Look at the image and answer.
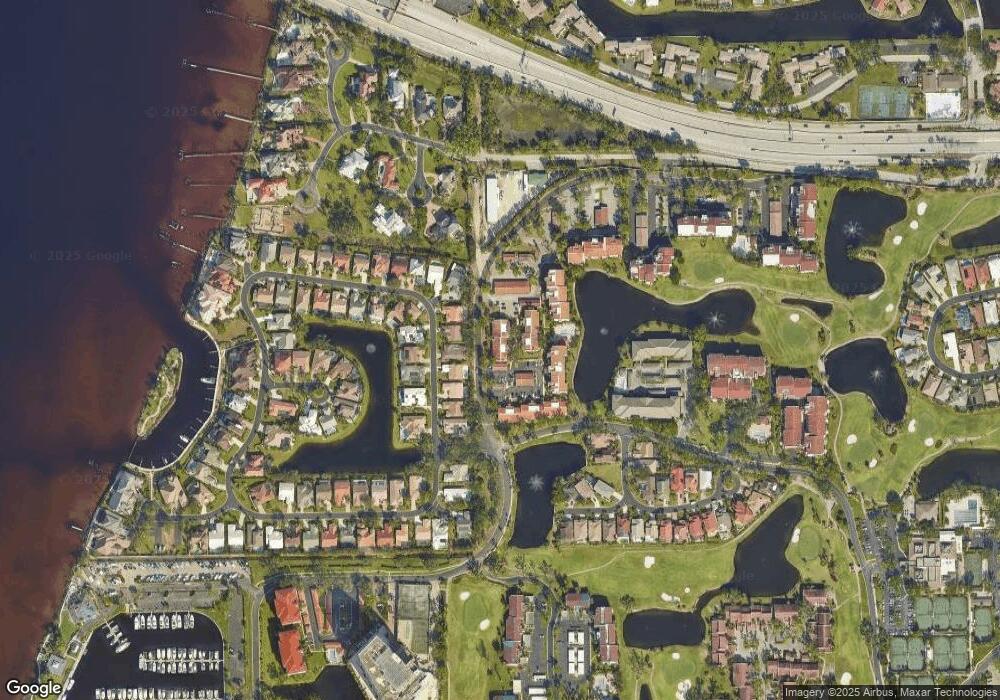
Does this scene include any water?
Yes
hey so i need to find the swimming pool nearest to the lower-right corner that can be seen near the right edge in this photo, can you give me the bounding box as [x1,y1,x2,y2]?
[944,493,983,528]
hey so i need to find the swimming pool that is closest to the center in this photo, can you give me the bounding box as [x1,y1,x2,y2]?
[555,323,575,338]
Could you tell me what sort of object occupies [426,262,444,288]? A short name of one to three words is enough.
house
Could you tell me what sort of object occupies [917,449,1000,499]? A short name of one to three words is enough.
pond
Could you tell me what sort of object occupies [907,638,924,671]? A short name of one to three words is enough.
tennis court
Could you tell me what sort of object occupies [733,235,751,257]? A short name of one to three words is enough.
swimming pool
